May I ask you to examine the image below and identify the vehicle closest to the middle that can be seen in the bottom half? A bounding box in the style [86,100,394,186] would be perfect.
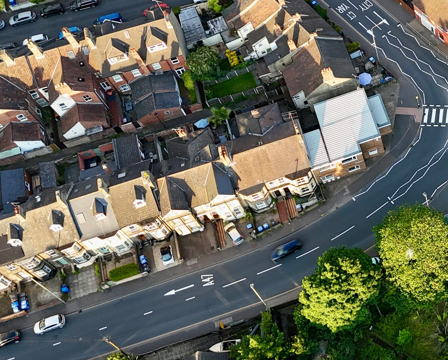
[223,221,244,248]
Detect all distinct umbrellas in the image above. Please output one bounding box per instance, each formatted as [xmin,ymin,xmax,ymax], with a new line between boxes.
[359,72,374,87]
[193,117,209,131]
